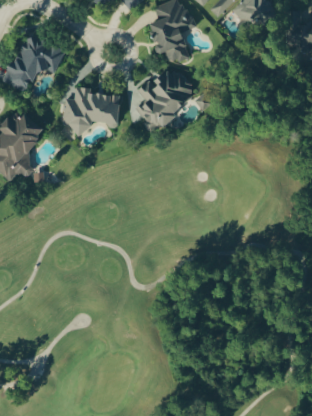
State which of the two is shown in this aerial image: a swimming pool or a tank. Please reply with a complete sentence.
Visible in the photo is a swimming pool.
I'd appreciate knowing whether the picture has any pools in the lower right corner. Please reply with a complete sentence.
No, there is no pool in the lower right corner.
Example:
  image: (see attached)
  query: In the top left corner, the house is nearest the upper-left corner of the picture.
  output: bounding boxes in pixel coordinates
[1,37,64,87]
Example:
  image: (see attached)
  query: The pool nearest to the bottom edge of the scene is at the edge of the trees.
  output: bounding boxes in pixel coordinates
[32,138,59,168]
